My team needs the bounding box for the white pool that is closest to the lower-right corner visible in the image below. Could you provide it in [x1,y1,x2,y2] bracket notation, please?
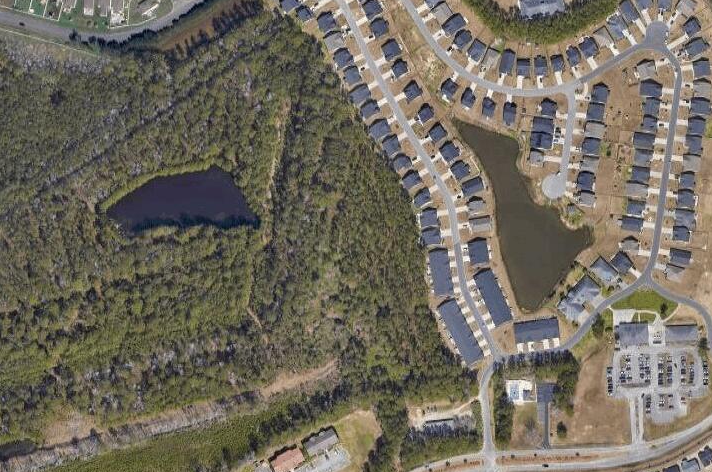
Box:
[506,380,536,402]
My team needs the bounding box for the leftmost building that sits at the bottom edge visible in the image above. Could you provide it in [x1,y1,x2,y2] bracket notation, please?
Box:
[271,447,305,472]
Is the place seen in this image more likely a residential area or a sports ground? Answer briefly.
residential area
